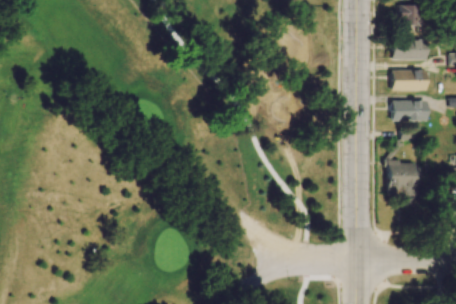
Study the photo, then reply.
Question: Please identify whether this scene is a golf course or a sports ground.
golf course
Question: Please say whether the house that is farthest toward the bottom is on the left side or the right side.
right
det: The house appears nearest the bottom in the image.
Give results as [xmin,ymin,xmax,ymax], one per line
[387,161,420,197]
